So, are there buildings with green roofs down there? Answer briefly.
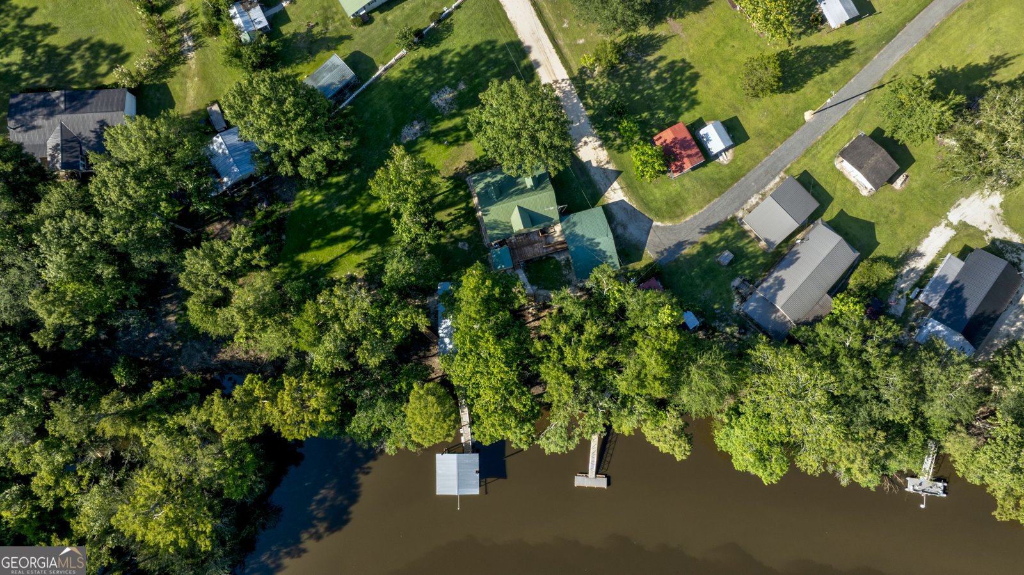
Yes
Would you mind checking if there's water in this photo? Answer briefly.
Yes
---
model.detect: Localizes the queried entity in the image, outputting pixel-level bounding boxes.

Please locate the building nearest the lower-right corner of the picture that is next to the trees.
[910,248,1024,361]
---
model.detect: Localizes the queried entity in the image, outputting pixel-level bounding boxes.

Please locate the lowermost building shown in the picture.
[436,449,479,511]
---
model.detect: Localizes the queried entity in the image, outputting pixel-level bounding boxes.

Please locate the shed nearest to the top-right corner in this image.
[810,0,859,32]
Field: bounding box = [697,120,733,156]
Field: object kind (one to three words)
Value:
shed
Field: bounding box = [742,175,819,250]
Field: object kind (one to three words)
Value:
shed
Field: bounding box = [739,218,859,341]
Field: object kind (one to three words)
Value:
house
